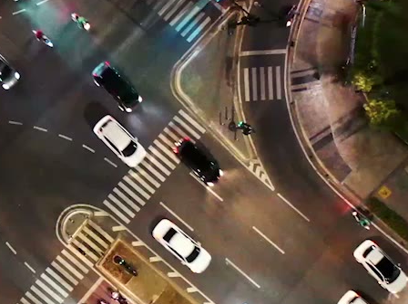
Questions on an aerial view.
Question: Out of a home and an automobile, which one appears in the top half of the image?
automobile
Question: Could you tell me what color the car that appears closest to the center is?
black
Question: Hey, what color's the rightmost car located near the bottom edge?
white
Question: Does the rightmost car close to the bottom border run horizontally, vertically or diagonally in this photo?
diagonally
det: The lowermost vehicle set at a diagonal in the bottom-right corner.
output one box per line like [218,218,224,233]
[352,240,406,293]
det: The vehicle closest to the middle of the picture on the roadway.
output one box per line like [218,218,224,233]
[173,137,222,186]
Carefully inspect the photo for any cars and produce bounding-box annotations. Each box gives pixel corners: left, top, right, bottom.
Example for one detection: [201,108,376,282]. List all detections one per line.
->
[173,137,222,186]
[336,290,367,304]
[352,240,406,293]
[0,54,20,90]
[92,115,145,168]
[152,219,208,270]
[91,59,142,112]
